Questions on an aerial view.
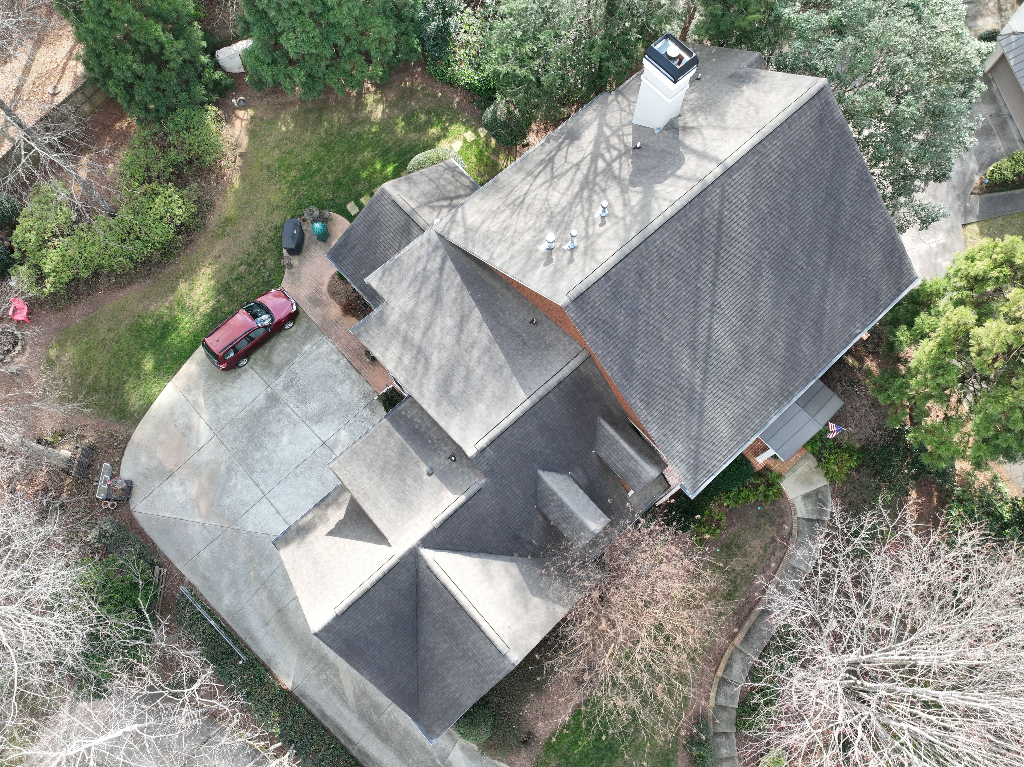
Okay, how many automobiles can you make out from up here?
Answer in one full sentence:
The count comes to 1 automobile.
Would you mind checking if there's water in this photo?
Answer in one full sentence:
No, water can't be seen anywhere here.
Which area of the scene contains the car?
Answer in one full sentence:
The car appears toward the left of the photo.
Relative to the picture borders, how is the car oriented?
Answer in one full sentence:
In this picture, the car lies diagonally.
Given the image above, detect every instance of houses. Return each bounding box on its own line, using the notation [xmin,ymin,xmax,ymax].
[269,27,926,748]
[985,0,1024,142]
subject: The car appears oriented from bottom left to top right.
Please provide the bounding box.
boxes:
[199,287,301,373]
